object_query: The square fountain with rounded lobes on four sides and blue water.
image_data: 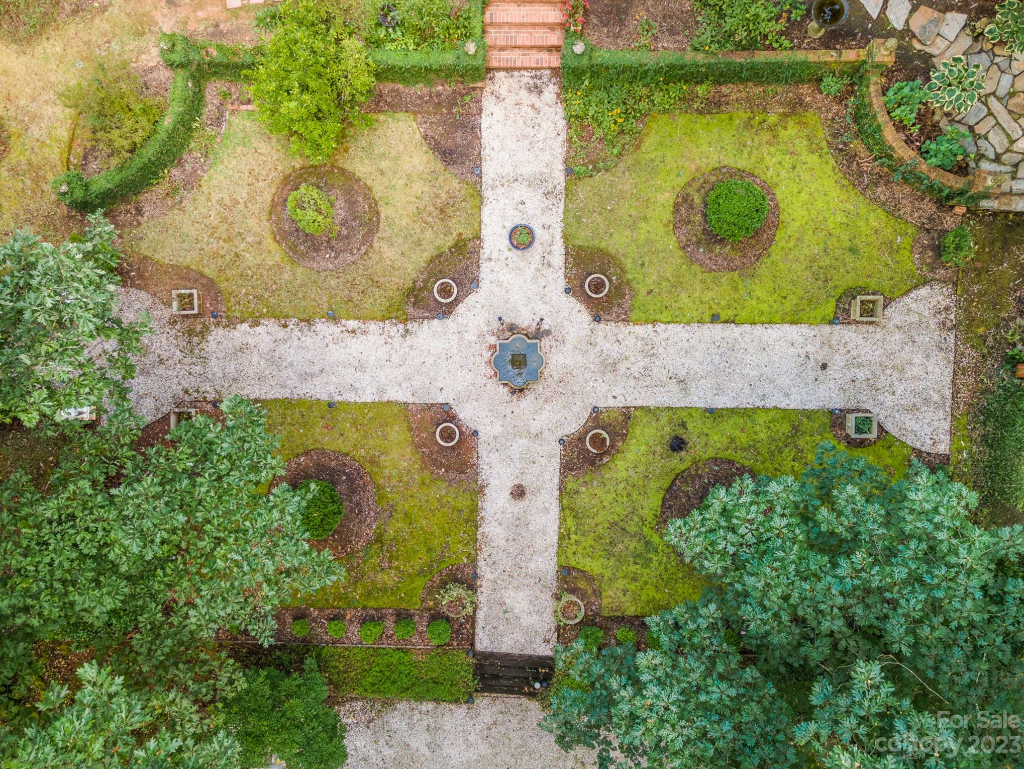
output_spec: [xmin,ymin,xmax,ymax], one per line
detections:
[491,335,545,389]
